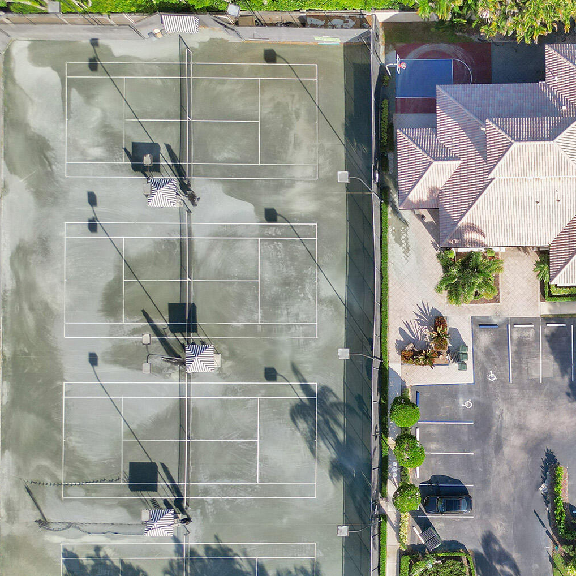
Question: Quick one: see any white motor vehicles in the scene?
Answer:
No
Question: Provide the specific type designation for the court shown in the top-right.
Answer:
basketball court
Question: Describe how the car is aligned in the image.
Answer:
horizontally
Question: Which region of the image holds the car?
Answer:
bottom right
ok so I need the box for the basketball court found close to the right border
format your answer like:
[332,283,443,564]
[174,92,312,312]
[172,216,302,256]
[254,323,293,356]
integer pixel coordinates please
[395,43,553,114]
